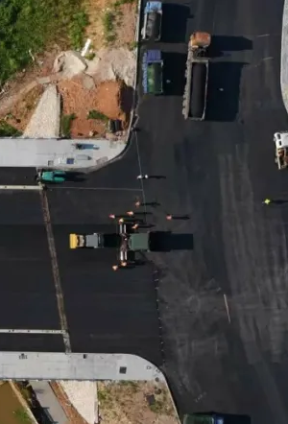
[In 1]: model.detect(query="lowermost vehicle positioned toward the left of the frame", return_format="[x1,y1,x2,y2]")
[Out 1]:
[70,235,105,249]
